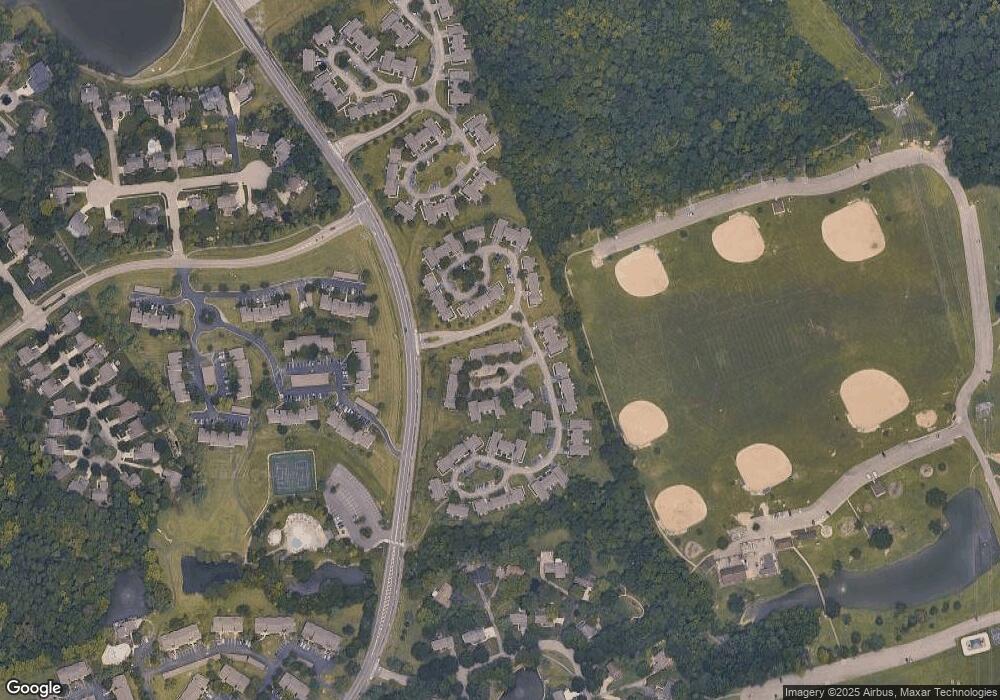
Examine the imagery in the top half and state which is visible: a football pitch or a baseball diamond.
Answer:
baseball diamond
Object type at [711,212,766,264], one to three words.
baseball field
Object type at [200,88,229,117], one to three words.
house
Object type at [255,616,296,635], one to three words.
building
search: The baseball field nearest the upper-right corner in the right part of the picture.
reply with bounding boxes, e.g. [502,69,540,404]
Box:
[820,200,887,263]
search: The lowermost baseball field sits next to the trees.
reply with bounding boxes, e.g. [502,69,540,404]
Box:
[654,483,708,537]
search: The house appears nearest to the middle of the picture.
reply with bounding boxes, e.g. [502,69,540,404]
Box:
[469,340,523,360]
